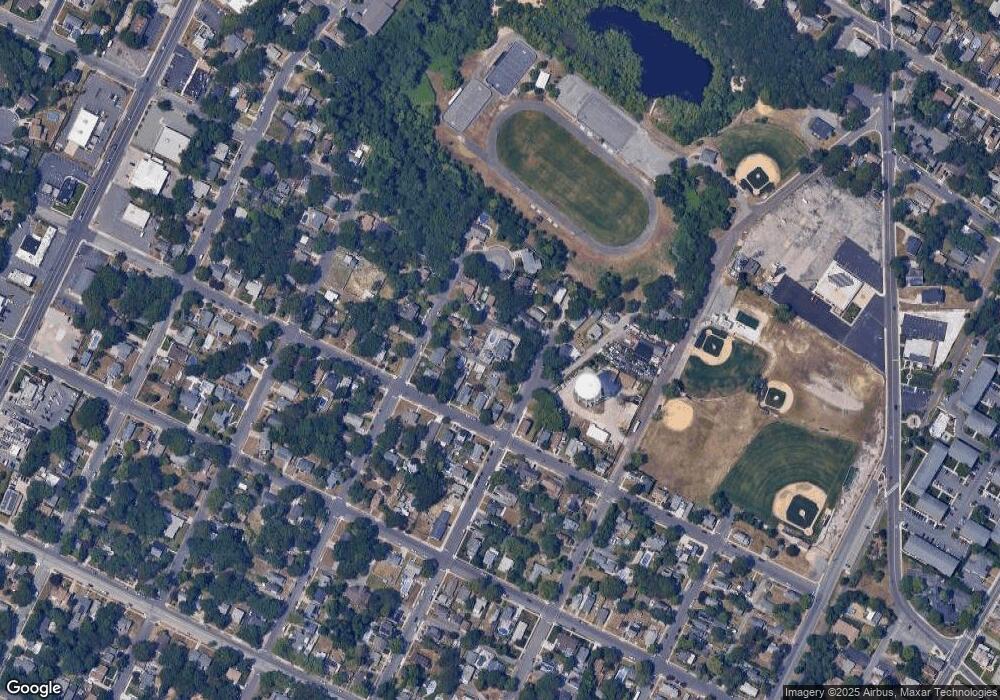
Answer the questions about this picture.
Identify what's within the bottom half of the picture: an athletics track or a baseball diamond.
baseball diamond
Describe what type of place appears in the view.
residential area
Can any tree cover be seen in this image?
Yes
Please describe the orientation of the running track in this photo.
diagonally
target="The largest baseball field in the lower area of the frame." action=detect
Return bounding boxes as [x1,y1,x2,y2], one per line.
[714,420,858,539]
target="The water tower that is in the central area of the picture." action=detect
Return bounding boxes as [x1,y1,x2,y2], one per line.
[573,373,609,412]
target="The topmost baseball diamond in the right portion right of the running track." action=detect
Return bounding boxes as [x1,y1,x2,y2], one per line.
[721,117,809,206]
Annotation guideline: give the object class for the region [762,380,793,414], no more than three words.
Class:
baseball field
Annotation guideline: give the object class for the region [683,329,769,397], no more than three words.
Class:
baseball field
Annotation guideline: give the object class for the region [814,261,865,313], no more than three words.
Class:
building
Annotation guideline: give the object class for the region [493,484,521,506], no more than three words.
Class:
house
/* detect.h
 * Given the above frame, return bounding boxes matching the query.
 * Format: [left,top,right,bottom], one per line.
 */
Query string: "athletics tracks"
[486,99,658,258]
